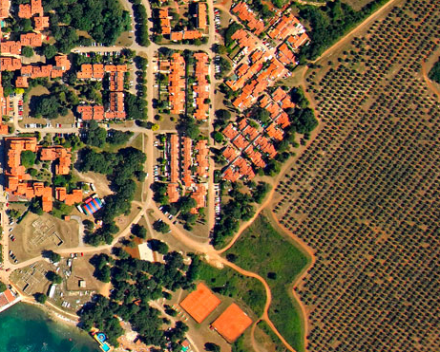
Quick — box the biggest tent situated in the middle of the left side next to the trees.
[79,196,104,218]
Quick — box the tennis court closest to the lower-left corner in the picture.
[180,283,221,324]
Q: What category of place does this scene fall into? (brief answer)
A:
residential area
